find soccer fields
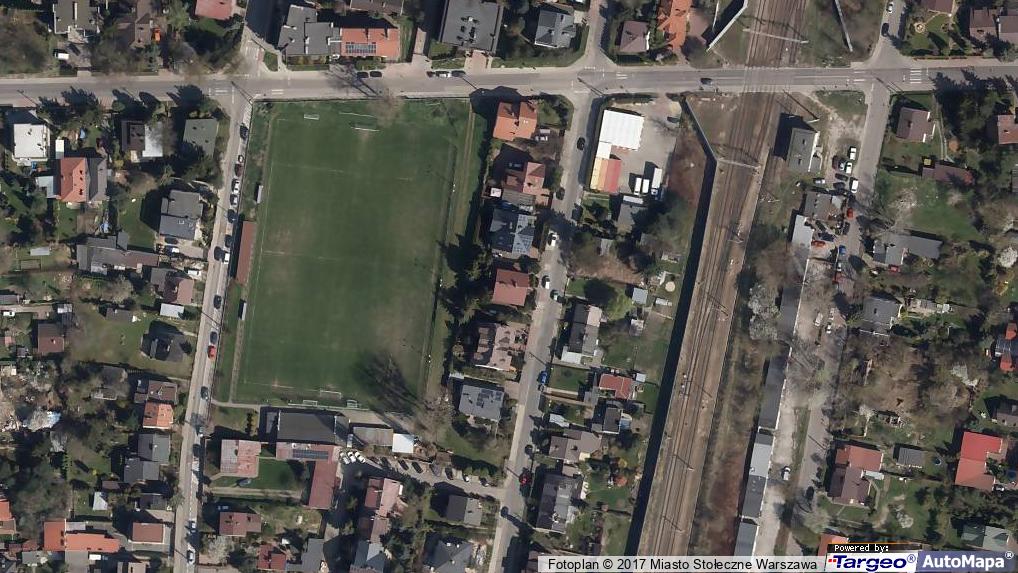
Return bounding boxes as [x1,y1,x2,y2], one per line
[239,113,448,407]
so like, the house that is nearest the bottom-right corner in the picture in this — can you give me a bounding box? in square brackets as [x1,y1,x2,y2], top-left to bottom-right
[961,525,1011,549]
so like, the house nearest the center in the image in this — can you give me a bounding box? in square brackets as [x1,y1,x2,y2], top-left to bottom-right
[492,269,529,306]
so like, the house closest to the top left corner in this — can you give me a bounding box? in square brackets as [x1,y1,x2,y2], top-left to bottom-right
[55,0,99,37]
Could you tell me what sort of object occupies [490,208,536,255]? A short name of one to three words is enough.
house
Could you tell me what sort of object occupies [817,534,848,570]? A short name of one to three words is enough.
house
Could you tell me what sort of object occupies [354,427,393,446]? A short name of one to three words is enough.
shed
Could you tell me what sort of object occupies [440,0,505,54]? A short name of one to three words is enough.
building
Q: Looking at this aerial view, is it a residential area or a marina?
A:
residential area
